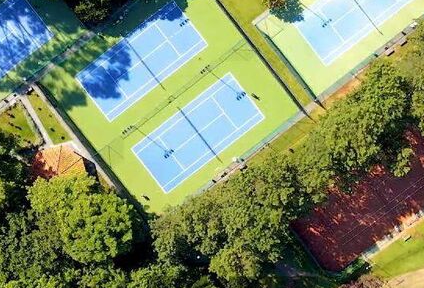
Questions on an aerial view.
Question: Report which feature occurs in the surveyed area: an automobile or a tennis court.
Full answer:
This aerial view contains a tennis court.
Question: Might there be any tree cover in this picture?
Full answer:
Yes, there's tree cover in this view.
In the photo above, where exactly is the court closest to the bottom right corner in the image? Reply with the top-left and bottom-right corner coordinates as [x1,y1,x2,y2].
[282,107,424,272]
